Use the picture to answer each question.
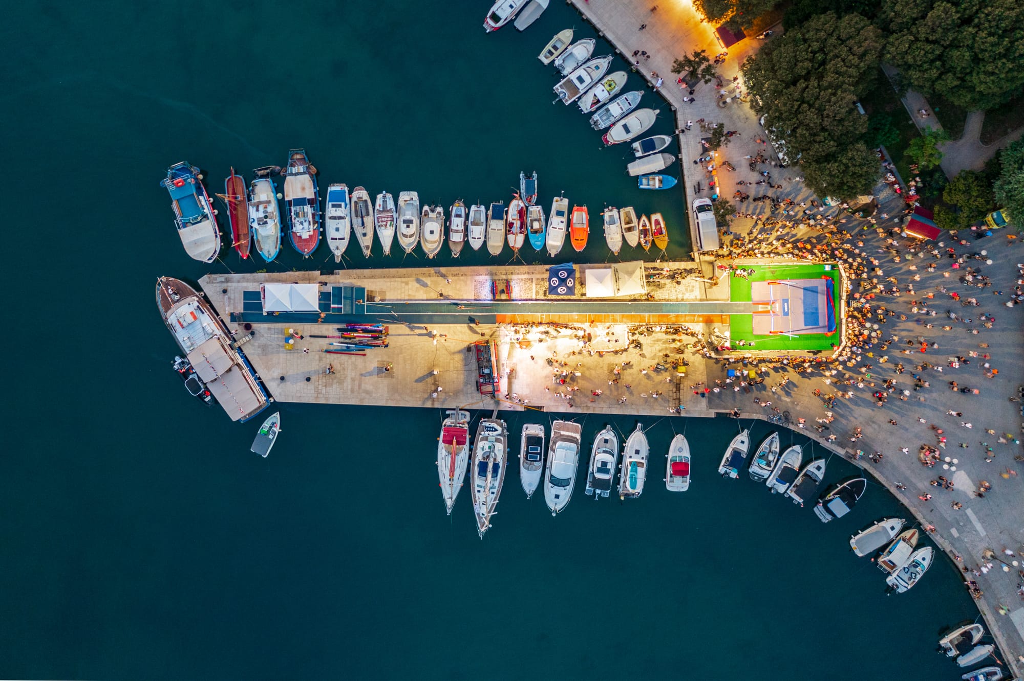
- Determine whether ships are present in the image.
Yes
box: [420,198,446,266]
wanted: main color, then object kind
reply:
white boat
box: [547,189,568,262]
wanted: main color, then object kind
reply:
white boat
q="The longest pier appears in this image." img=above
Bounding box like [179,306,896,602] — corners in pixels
[198,261,730,415]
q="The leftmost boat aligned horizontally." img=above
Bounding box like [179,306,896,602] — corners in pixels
[251,163,282,175]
